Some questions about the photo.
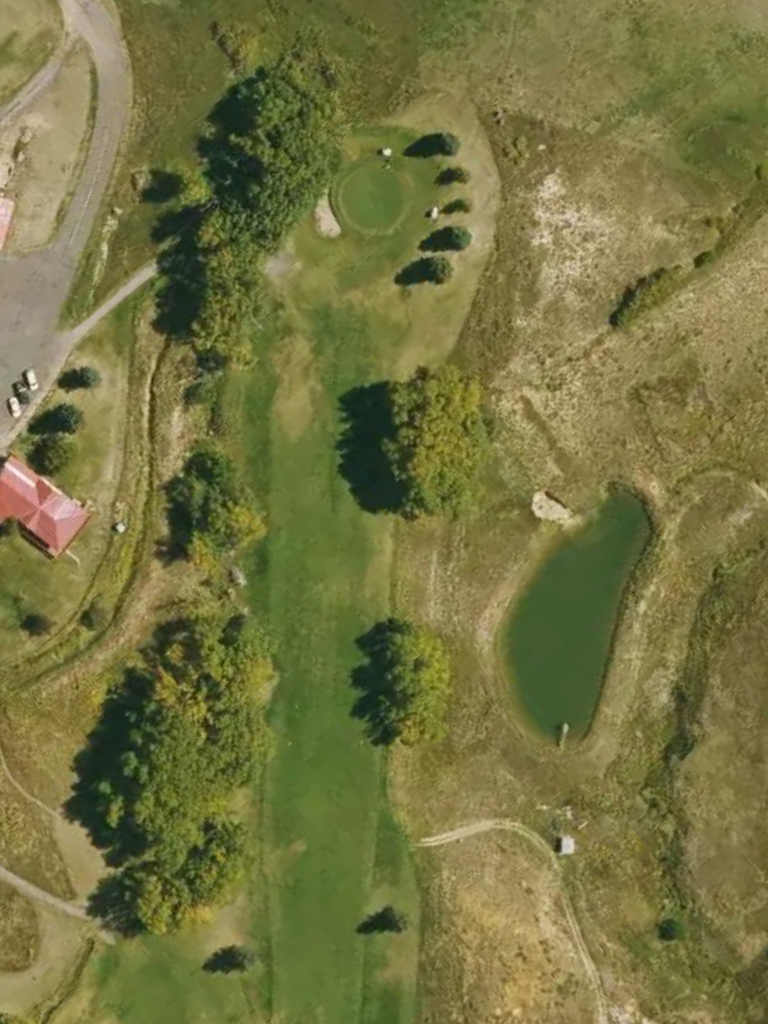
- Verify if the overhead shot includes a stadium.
No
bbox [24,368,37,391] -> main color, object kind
white vehicle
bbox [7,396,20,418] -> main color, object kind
white vehicle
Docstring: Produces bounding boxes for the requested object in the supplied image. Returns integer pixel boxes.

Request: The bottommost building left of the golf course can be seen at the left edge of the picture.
[0,456,87,557]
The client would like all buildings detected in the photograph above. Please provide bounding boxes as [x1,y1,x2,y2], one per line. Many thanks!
[560,836,572,854]
[0,200,10,249]
[0,456,87,557]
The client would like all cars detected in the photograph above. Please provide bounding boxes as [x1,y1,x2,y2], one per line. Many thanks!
[24,368,37,391]
[7,396,20,418]
[14,379,28,403]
